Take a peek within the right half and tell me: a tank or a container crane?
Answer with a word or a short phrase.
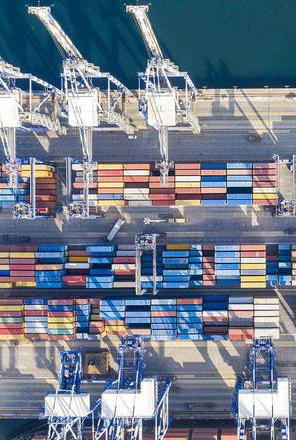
container crane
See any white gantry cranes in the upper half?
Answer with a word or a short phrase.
Yes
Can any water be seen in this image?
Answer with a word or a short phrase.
Yes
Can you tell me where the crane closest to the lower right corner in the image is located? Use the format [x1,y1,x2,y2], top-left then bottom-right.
[233,335,291,440]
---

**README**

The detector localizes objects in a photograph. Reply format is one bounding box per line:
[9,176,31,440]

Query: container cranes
[0,52,74,190]
[43,349,117,440]
[121,1,206,189]
[271,153,296,218]
[23,3,141,189]
[101,336,177,440]
[12,155,53,220]
[233,335,291,440]
[65,155,103,219]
